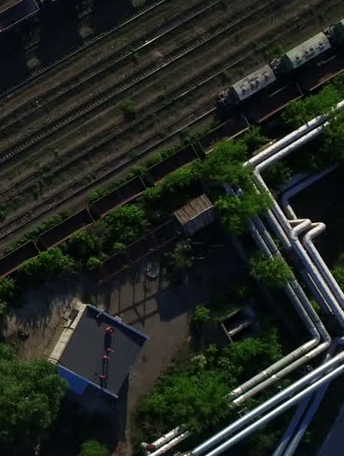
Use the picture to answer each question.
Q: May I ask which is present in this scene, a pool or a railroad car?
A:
railroad car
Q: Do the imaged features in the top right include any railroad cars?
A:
Yes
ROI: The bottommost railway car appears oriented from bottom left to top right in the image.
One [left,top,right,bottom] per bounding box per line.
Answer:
[0,238,41,278]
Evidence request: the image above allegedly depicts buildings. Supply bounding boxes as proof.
[169,193,218,237]
[48,303,149,398]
